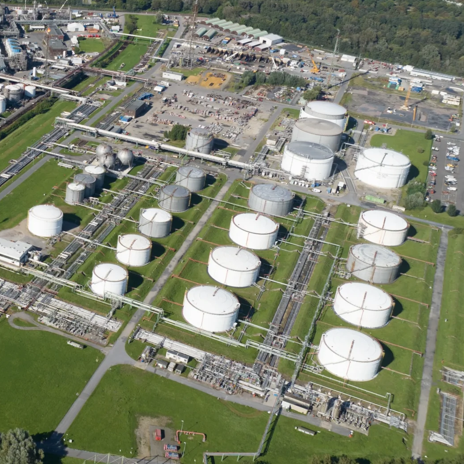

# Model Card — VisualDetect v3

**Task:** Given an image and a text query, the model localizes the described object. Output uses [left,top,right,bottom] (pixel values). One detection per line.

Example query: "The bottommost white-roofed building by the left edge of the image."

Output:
[0,236,32,267]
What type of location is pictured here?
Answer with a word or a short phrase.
industrial area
